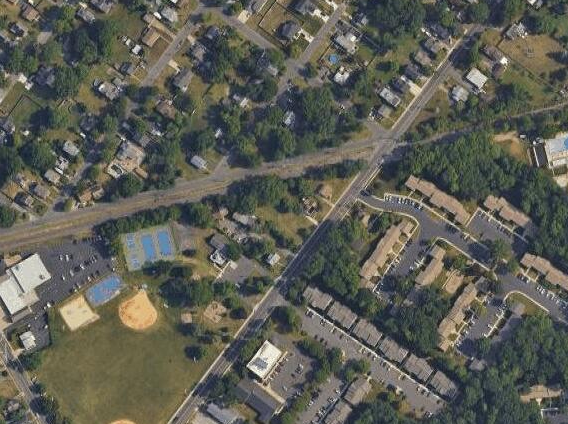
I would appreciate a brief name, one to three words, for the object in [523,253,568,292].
building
